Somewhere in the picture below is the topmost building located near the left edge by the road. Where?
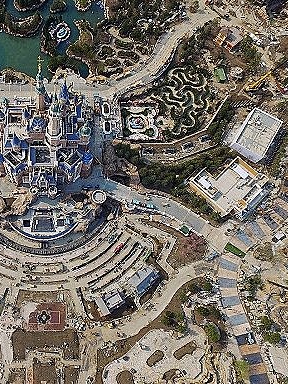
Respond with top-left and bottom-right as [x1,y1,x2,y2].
[0,62,95,199]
